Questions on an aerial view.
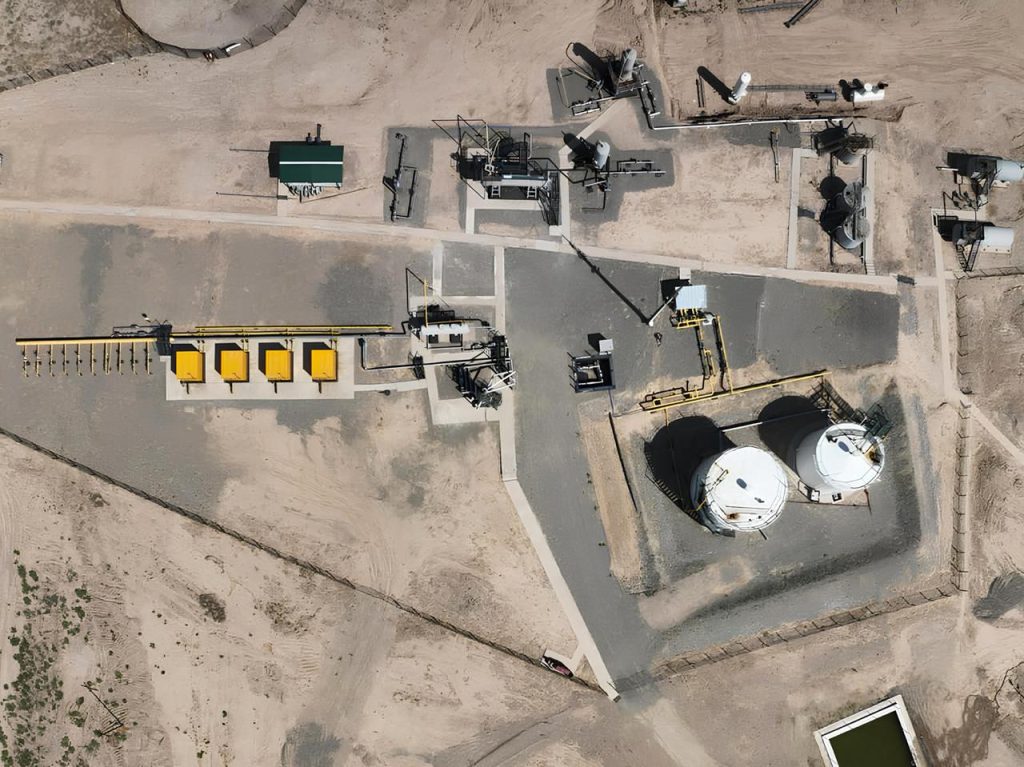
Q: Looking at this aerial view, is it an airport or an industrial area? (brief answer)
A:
industrial area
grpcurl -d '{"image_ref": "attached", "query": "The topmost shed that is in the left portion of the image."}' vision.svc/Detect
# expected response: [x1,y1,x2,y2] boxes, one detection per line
[279,146,345,192]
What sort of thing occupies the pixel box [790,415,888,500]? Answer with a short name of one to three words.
storage tank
